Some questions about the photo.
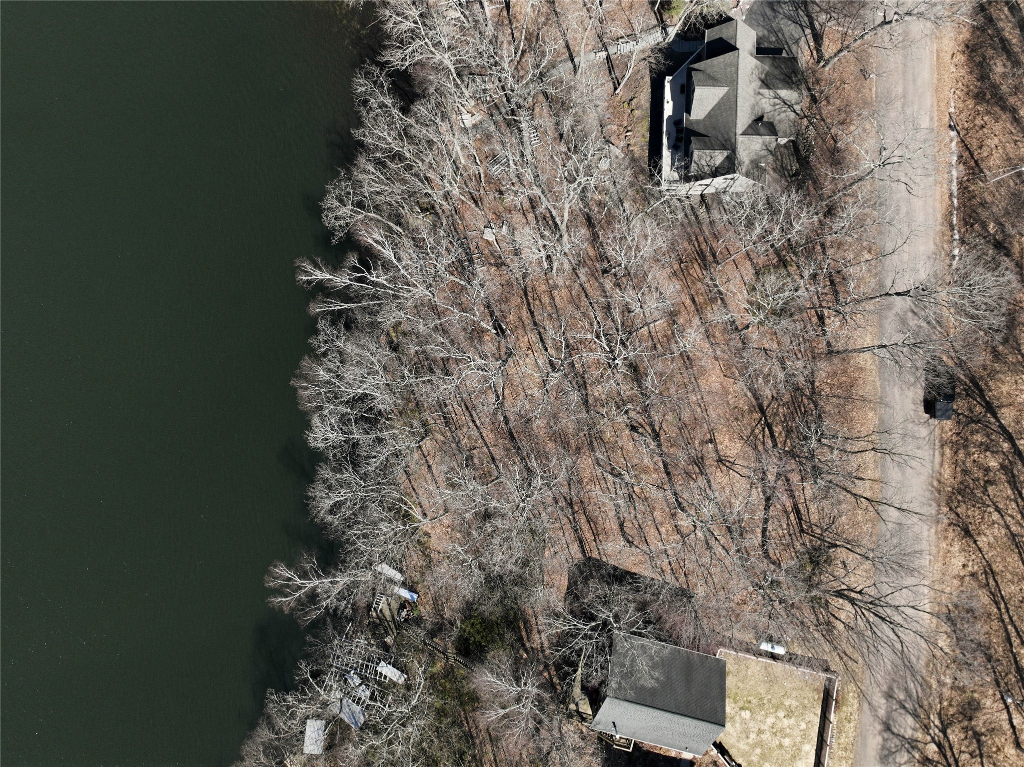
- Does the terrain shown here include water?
Yes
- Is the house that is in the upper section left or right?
right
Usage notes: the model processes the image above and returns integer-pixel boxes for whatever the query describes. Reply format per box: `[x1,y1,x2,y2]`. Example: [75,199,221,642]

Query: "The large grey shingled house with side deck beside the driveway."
[677,20,806,193]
